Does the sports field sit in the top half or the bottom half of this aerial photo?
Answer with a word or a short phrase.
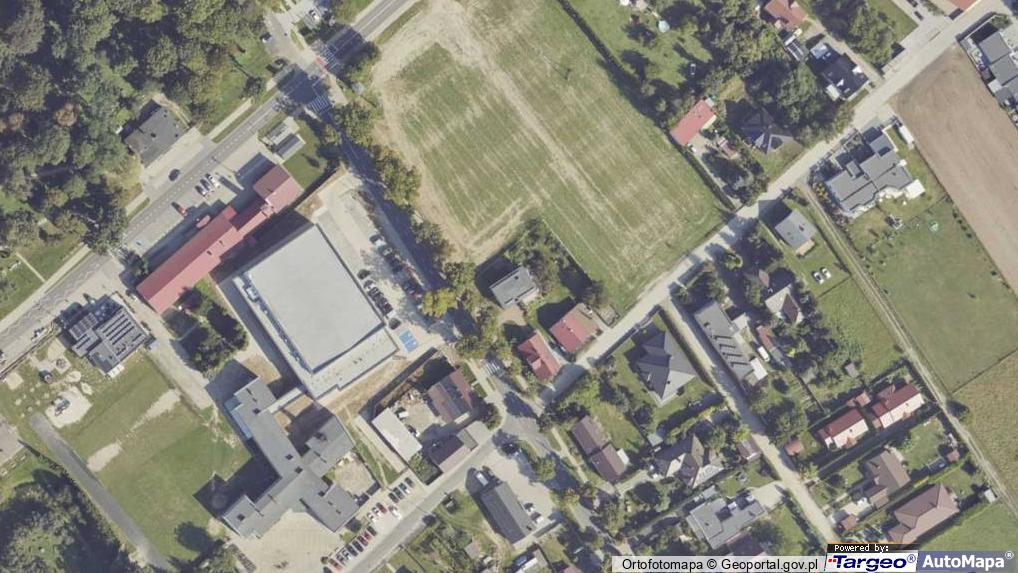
bottom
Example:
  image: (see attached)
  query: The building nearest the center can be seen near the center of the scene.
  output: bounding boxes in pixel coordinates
[490,266,539,308]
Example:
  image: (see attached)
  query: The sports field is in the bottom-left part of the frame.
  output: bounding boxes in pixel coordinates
[60,350,235,573]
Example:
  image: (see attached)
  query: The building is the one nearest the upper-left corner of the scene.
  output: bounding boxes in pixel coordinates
[125,107,186,167]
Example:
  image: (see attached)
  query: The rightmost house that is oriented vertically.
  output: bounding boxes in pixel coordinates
[977,32,1018,108]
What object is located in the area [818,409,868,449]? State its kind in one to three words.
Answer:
house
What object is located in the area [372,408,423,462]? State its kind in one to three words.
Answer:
building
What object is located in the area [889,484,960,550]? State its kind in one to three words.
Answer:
house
